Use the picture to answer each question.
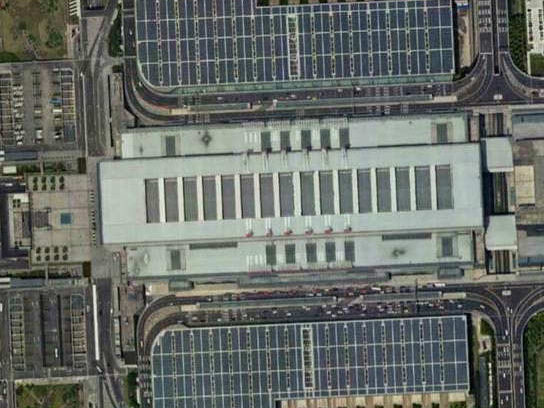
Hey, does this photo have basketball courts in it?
No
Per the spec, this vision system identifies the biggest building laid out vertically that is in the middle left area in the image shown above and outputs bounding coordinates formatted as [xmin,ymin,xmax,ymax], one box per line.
[10,191,29,248]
